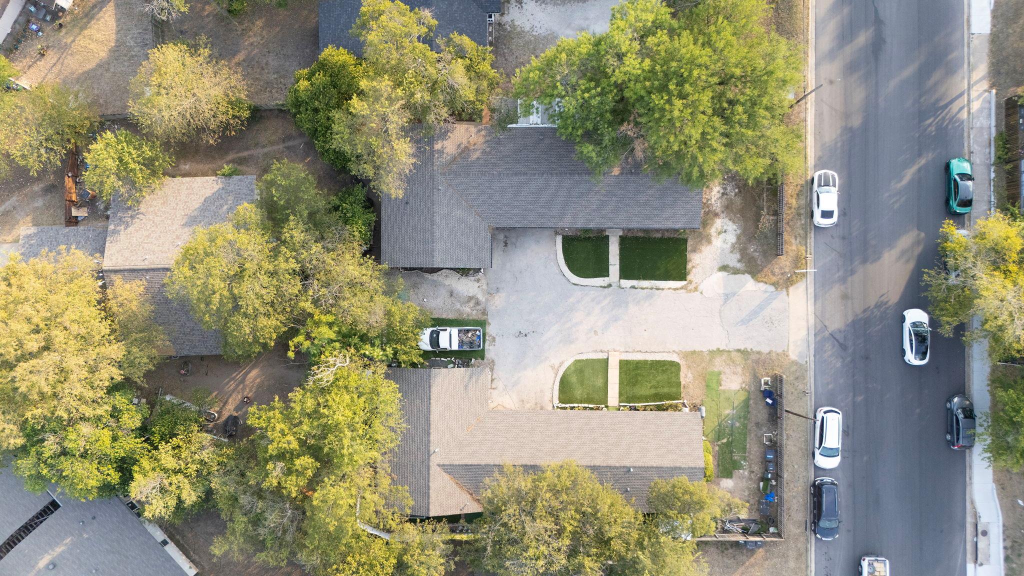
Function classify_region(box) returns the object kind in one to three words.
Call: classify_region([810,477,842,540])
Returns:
car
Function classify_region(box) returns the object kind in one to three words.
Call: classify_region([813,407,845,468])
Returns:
car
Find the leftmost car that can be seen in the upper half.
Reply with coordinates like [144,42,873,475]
[811,169,842,227]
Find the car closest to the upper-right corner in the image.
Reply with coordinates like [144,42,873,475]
[943,157,976,214]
